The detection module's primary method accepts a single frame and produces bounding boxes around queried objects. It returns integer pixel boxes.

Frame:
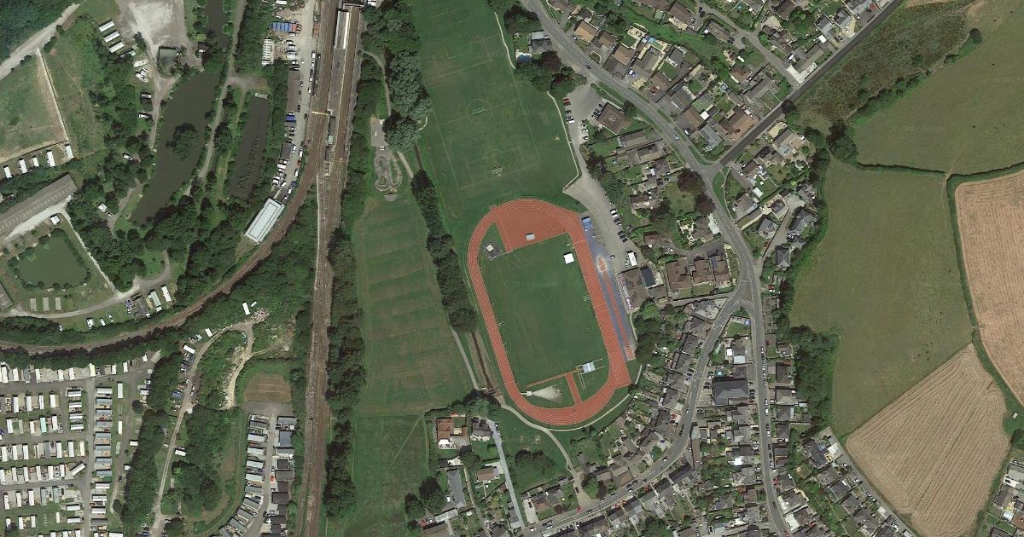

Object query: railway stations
[326,1,364,175]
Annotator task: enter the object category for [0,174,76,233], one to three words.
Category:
barn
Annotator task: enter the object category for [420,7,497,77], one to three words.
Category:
soccer field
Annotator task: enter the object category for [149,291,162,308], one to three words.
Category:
vehicle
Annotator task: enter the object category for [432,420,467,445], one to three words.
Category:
house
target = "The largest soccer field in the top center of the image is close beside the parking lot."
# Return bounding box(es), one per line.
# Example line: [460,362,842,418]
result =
[421,35,540,189]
